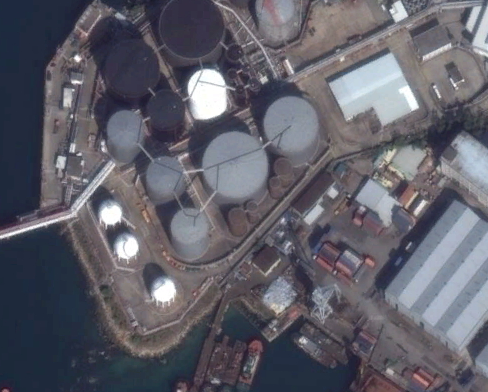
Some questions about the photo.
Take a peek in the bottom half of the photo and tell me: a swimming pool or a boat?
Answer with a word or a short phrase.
boat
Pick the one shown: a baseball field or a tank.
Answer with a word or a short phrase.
tank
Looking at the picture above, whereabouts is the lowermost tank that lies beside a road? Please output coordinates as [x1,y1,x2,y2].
[152,276,182,307]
